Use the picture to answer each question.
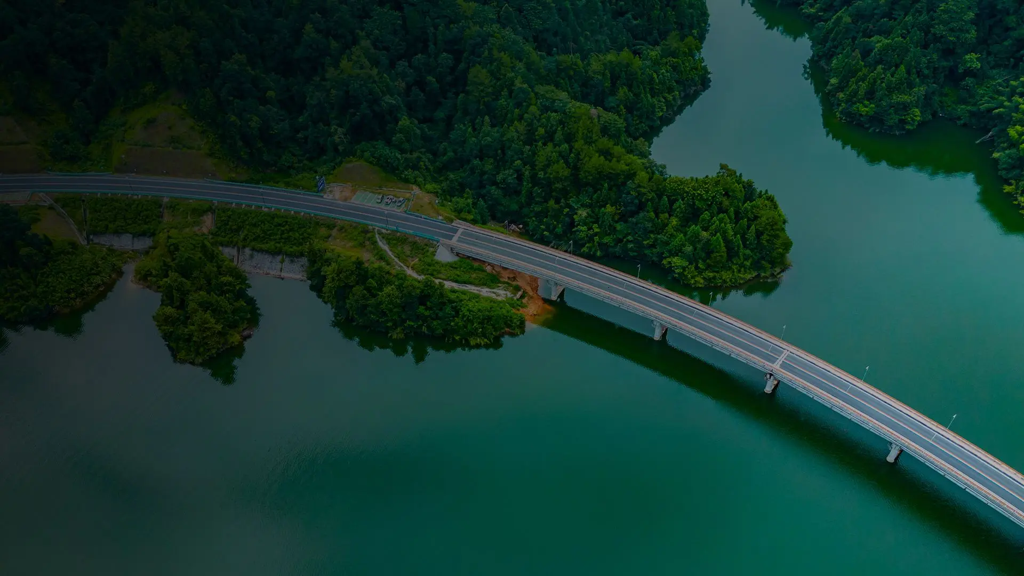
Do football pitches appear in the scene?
No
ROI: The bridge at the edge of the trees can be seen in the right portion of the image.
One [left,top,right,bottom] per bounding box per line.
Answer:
[425,218,1024,524]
